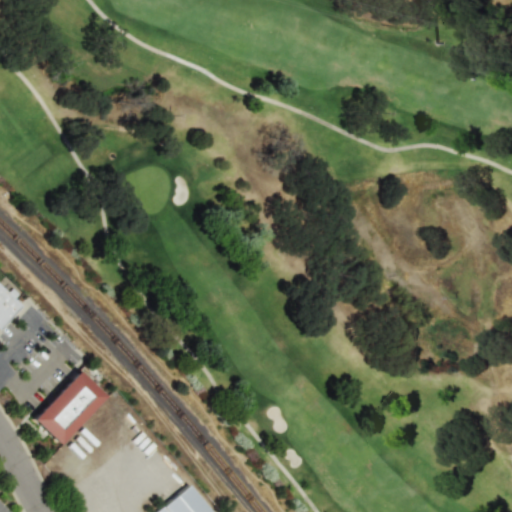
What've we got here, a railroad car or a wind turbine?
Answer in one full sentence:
It is a railroad car that can be seen here.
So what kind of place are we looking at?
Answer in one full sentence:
It's a golf course.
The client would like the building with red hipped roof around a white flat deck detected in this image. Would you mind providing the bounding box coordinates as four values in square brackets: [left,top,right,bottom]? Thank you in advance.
[36,373,108,444]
